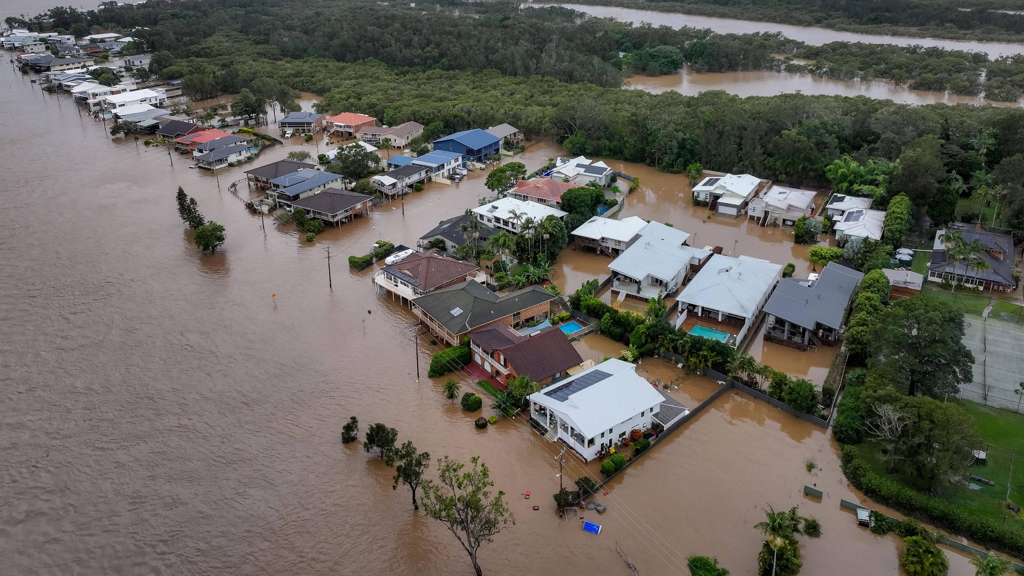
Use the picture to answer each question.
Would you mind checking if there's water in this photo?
Yes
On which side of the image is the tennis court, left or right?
right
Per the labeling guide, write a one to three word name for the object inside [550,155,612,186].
house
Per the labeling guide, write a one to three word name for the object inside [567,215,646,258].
house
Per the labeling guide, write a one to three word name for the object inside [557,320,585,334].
swimming pool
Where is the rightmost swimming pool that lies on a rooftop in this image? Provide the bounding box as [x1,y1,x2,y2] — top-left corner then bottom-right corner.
[688,326,730,343]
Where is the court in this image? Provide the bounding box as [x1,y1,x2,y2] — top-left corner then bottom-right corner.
[849,294,1024,424]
